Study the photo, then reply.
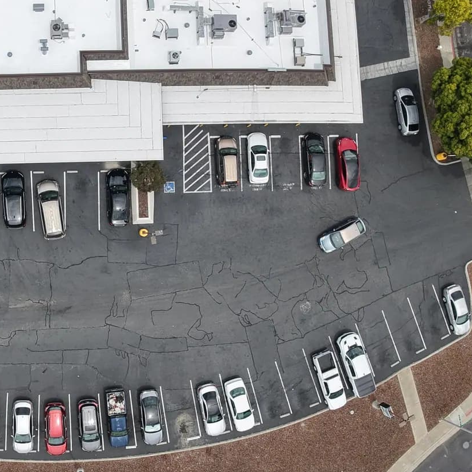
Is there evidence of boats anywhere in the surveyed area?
No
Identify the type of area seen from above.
parking lot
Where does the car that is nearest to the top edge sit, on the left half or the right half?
right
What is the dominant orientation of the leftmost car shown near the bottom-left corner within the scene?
up and down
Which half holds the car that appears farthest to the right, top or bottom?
bottom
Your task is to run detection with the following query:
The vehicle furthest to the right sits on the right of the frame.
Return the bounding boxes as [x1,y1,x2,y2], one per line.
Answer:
[437,281,472,337]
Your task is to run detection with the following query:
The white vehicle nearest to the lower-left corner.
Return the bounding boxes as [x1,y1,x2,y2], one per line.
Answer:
[9,398,35,453]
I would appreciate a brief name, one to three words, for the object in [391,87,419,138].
car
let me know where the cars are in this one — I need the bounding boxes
[0,170,26,229]
[43,400,67,455]
[139,388,164,445]
[9,398,35,453]
[437,281,472,337]
[244,133,270,186]
[77,398,102,453]
[36,179,64,241]
[224,376,254,432]
[315,215,368,254]
[333,137,361,193]
[196,380,226,437]
[300,133,327,188]
[215,137,241,188]
[105,169,131,226]
[391,87,419,138]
